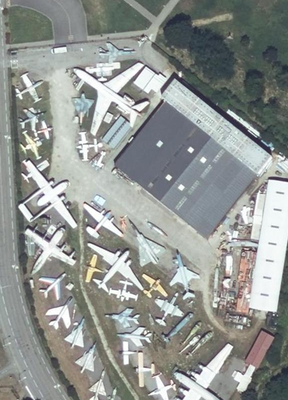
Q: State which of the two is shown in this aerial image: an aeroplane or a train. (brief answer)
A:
aeroplane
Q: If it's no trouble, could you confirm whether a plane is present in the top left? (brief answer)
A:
Yes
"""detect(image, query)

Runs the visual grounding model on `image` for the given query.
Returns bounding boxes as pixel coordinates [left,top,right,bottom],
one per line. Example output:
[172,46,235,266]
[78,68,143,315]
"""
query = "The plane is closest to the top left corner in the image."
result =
[15,72,43,102]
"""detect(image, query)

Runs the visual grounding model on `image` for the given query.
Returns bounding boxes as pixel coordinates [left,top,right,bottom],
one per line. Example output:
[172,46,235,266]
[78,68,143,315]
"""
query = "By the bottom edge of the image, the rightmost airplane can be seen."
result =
[174,344,234,400]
